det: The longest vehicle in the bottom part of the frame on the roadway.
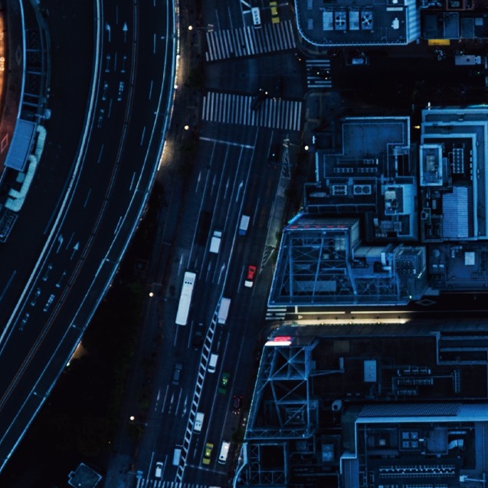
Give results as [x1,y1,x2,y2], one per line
[174,271,195,326]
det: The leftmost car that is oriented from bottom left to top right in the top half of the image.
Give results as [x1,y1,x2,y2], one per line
[250,91,268,113]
